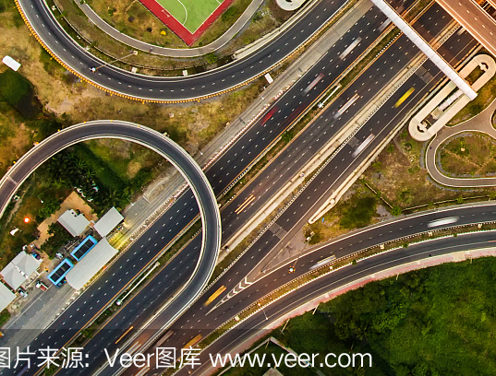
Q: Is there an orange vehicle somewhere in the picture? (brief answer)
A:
Yes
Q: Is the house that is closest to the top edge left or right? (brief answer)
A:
left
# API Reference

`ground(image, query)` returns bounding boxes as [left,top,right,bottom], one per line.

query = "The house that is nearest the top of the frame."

[58,207,94,237]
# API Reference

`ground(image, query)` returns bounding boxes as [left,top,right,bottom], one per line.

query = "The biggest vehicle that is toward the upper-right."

[392,85,416,109]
